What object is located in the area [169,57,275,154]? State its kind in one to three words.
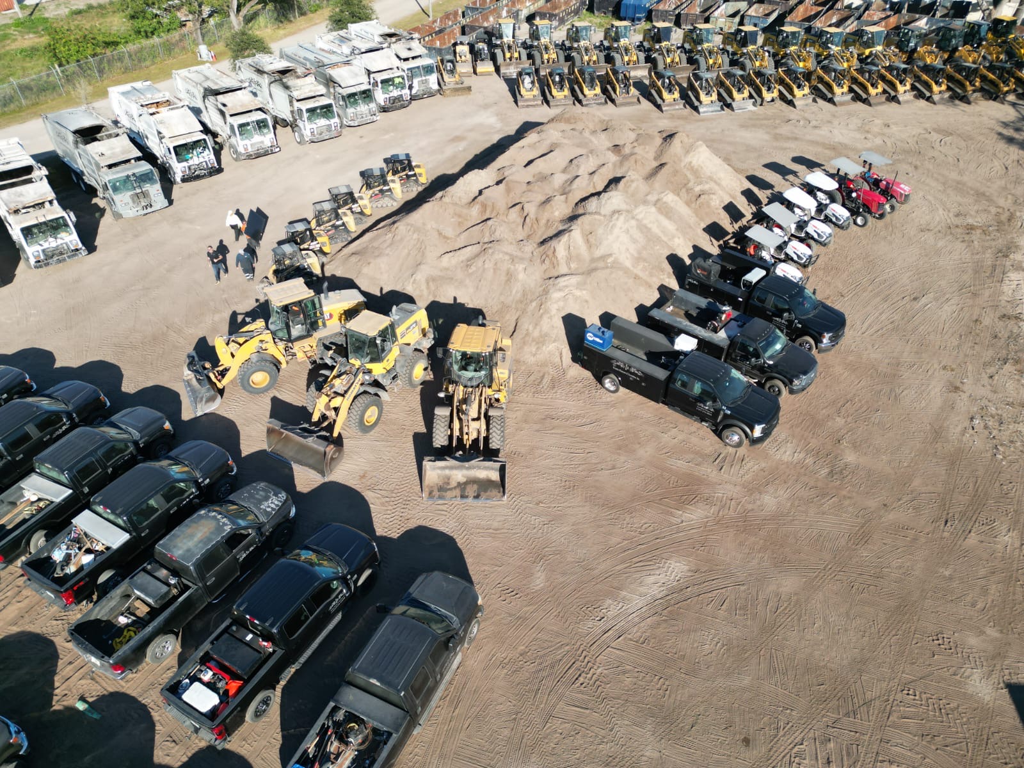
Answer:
truck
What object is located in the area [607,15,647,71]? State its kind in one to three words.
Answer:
work vehicle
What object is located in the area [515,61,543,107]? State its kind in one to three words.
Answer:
work vehicle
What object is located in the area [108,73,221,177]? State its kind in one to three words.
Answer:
truck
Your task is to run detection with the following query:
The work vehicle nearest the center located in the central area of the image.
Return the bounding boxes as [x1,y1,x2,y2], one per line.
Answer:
[422,311,509,502]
